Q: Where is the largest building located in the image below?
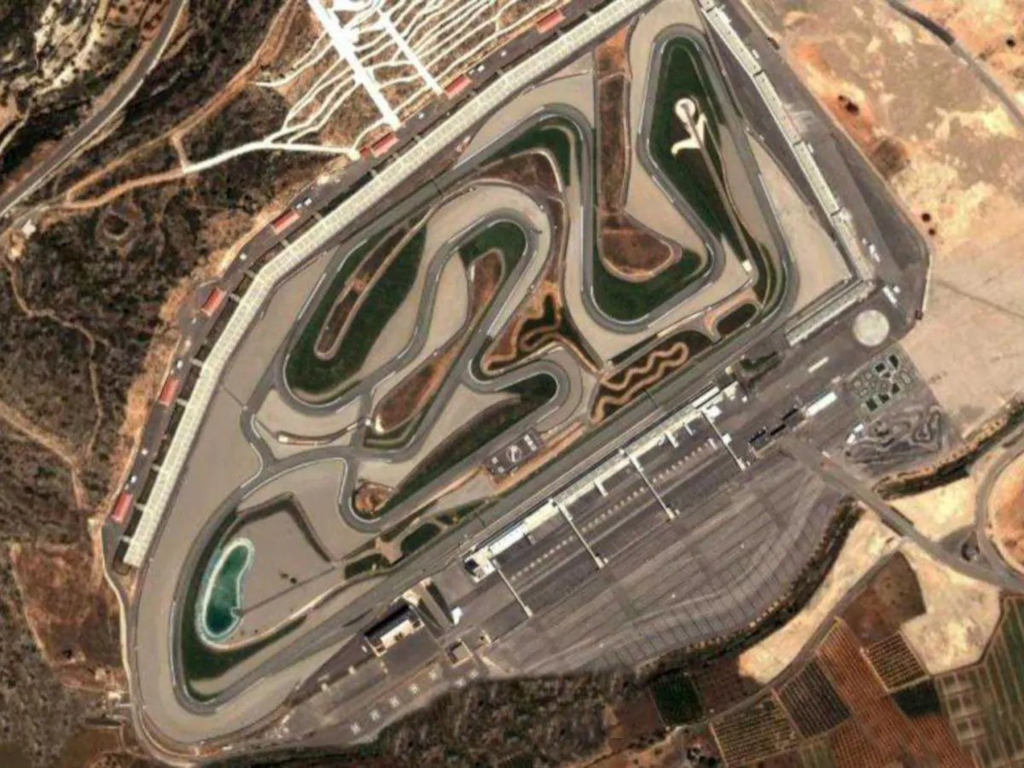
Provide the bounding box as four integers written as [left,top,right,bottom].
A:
[478,383,739,558]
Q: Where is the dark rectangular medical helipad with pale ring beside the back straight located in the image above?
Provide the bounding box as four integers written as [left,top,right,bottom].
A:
[485,426,545,477]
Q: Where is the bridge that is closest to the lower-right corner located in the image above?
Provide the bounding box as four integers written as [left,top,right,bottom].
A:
[861,487,909,531]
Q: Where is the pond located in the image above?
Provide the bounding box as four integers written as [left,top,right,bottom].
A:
[200,540,253,638]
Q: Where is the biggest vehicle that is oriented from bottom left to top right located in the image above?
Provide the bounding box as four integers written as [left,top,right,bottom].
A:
[808,356,828,372]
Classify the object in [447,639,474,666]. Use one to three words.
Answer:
building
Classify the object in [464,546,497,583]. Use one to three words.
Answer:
building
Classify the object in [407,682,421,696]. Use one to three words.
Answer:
helipad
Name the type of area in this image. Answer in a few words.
sports ground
